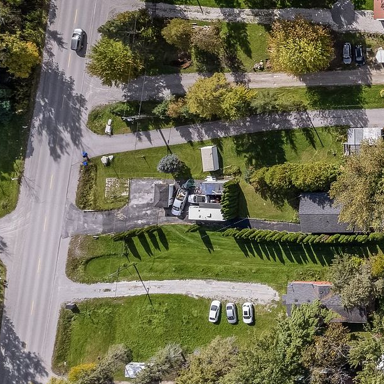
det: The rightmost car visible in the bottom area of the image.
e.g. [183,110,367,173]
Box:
[241,301,254,325]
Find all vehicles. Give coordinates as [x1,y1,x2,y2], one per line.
[70,27,85,50]
[342,42,353,64]
[241,301,254,325]
[225,301,237,325]
[172,187,189,216]
[185,194,212,205]
[354,43,364,64]
[208,299,221,323]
